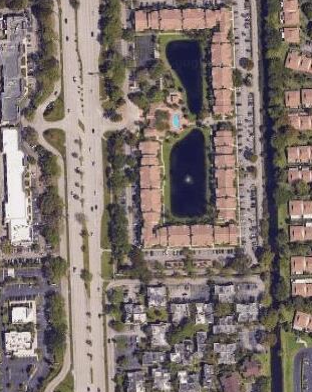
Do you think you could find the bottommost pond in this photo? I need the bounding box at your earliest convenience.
[170,129,207,217]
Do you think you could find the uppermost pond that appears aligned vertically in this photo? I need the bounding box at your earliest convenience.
[166,40,201,115]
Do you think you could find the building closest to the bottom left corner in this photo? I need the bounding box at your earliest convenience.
[5,330,36,358]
